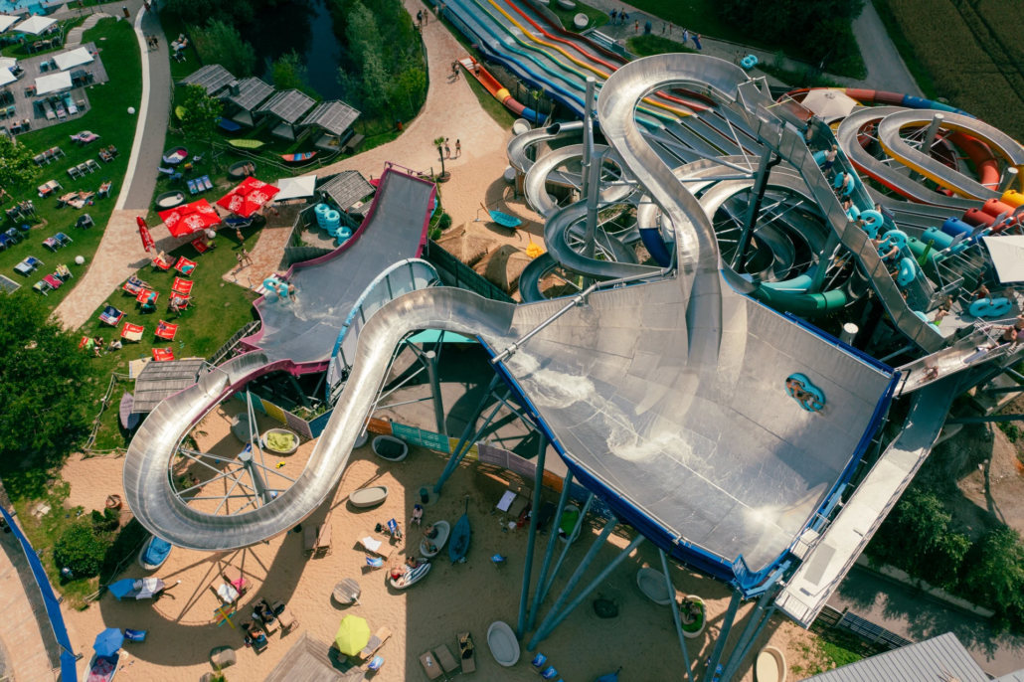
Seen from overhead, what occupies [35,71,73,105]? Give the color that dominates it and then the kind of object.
white umbrella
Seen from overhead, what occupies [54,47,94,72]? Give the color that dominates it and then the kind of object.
white umbrella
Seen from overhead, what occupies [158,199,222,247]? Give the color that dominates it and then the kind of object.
red umbrella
